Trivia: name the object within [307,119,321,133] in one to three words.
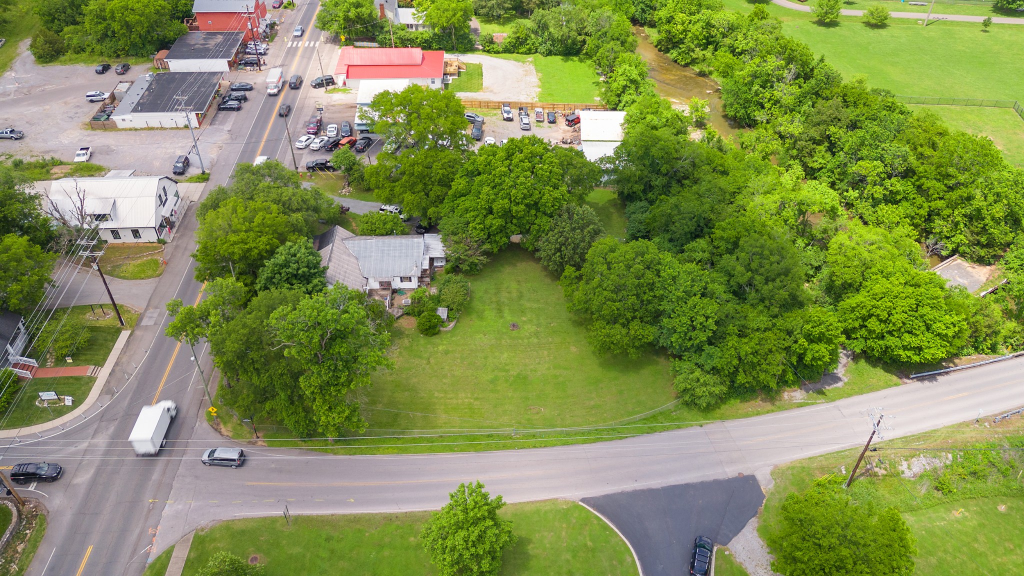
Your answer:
vehicle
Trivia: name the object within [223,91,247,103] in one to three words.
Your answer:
vehicle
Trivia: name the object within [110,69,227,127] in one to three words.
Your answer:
building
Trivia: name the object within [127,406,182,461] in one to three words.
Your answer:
truck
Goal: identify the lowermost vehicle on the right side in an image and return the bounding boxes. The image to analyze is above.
[685,533,716,576]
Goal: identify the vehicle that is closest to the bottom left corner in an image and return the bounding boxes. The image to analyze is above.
[3,458,68,486]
